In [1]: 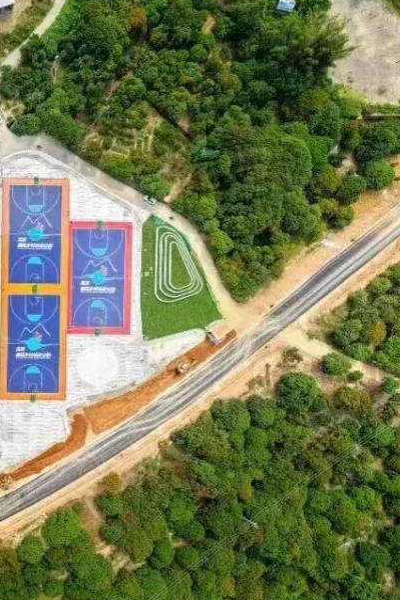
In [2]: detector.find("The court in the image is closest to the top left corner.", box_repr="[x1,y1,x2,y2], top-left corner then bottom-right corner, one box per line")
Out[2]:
[1,178,70,289]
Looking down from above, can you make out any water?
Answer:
No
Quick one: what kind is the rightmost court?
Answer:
basketball court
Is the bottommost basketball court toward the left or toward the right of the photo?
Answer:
left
